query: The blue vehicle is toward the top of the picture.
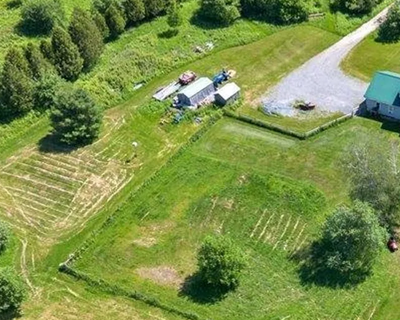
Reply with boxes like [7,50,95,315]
[215,71,234,84]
